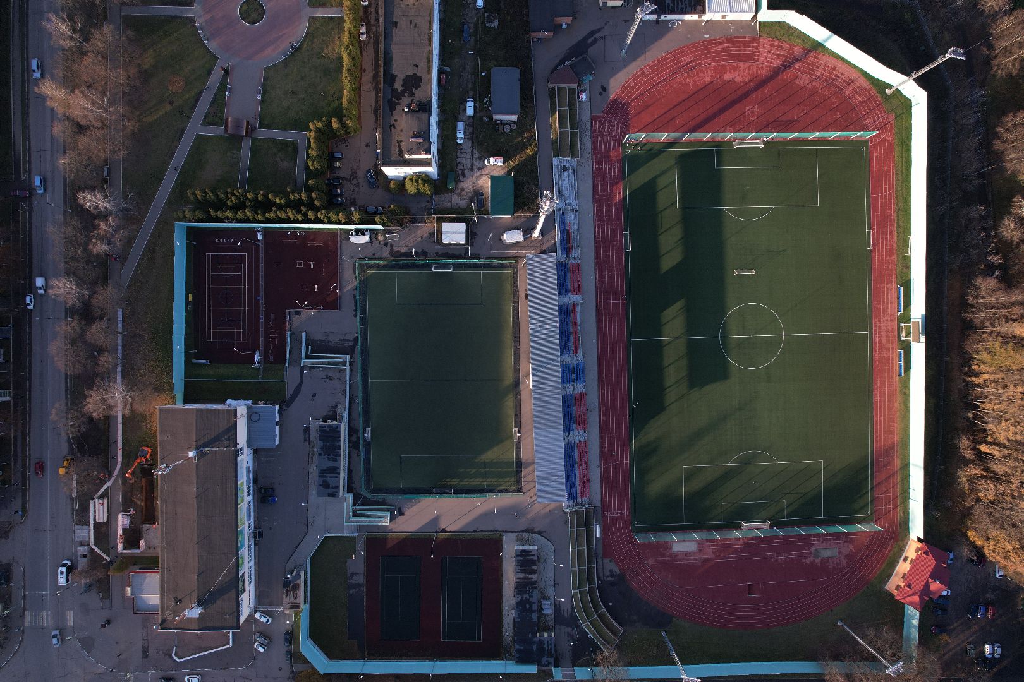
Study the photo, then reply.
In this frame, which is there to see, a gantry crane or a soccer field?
soccer field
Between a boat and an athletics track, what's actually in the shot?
athletics track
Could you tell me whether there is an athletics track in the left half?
No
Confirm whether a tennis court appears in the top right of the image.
No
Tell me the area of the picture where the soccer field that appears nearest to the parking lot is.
right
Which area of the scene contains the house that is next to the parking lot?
bottom right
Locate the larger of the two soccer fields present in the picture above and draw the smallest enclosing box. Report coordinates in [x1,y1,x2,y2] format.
[623,138,875,534]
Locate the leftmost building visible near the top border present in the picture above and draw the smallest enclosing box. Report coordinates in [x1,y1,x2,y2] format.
[374,0,441,176]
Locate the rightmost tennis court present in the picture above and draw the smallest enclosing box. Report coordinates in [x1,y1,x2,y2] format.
[442,556,482,642]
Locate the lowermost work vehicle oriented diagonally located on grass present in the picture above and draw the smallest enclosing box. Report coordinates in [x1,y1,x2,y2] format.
[126,447,151,480]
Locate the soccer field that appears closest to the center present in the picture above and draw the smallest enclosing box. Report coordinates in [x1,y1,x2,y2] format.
[357,261,522,496]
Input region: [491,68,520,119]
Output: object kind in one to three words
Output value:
shed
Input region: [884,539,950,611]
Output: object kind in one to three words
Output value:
house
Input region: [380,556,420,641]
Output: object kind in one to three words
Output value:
tennis court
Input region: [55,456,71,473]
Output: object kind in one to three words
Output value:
work vehicle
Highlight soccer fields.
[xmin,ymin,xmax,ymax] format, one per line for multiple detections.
[357,261,522,496]
[623,138,875,534]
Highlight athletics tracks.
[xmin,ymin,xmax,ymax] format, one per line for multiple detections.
[593,35,899,629]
